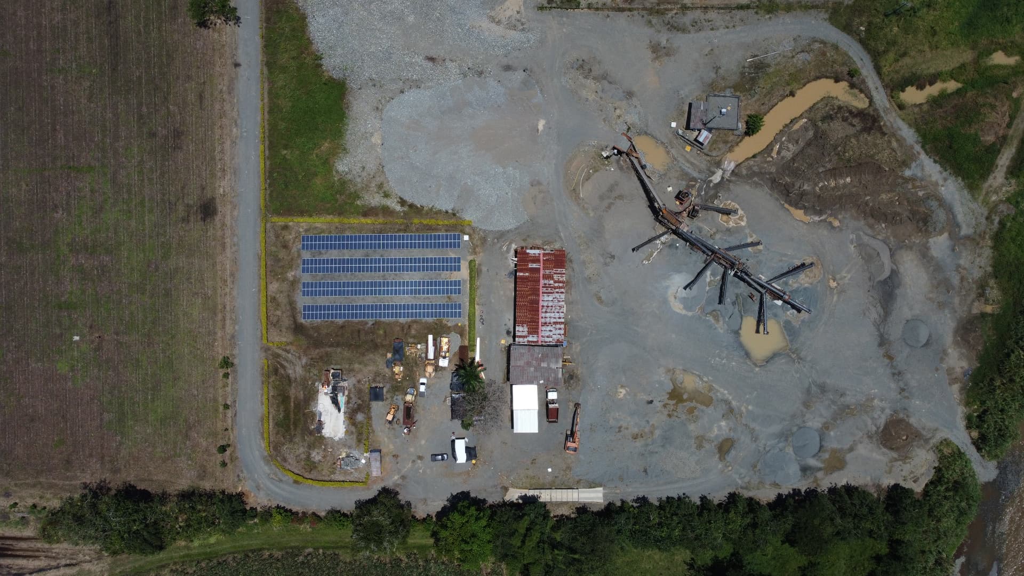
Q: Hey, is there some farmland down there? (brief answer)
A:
Yes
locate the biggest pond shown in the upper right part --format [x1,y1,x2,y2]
[723,79,868,165]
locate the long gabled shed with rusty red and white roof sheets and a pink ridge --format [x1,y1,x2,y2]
[513,250,566,344]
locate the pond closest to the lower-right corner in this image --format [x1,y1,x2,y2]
[739,317,789,364]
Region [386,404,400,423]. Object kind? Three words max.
work vehicle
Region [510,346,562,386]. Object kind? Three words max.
shed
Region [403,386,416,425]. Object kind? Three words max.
vehicle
